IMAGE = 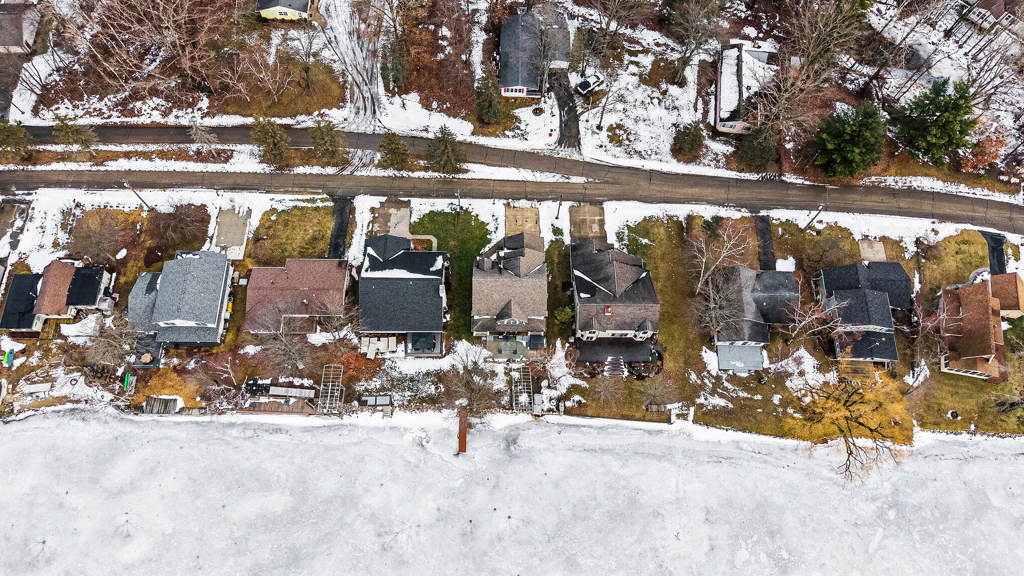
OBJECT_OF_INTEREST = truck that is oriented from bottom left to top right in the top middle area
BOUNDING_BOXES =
[576,73,606,97]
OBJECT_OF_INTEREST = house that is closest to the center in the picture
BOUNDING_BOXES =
[471,233,549,360]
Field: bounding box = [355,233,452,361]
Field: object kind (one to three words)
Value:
house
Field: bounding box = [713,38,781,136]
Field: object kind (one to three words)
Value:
house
